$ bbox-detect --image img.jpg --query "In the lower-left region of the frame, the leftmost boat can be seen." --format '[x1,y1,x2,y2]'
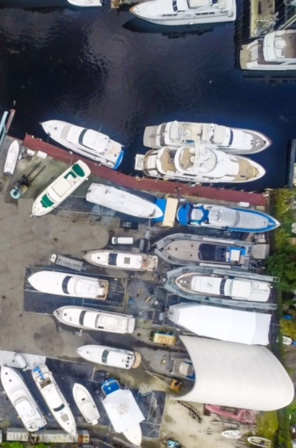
[2,366,52,436]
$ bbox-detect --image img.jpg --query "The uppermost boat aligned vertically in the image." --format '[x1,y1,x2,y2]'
[3,140,20,177]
